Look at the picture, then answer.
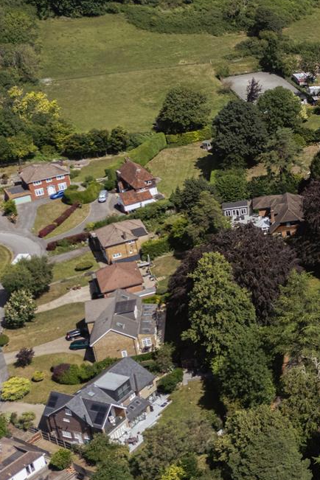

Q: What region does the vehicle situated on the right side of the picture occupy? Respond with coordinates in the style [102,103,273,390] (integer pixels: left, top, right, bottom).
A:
[305,83,320,96]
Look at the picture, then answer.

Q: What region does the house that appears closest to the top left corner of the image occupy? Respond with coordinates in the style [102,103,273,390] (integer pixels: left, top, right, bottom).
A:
[11,156,75,207]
